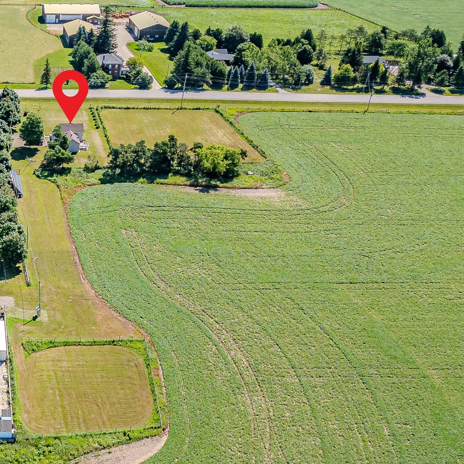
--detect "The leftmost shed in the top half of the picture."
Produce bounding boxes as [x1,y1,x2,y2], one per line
[11,160,32,197]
